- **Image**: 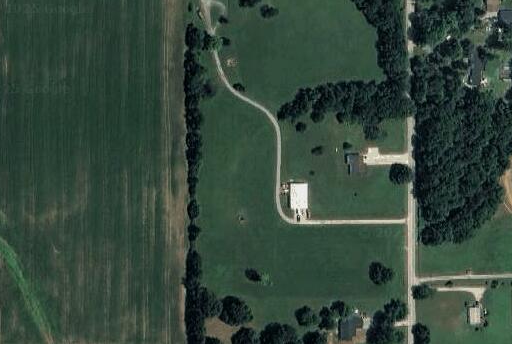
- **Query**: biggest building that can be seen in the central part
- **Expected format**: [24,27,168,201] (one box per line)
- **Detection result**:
[290,183,308,209]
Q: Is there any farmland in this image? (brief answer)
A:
Yes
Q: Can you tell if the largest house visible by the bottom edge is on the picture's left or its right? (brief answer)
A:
right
